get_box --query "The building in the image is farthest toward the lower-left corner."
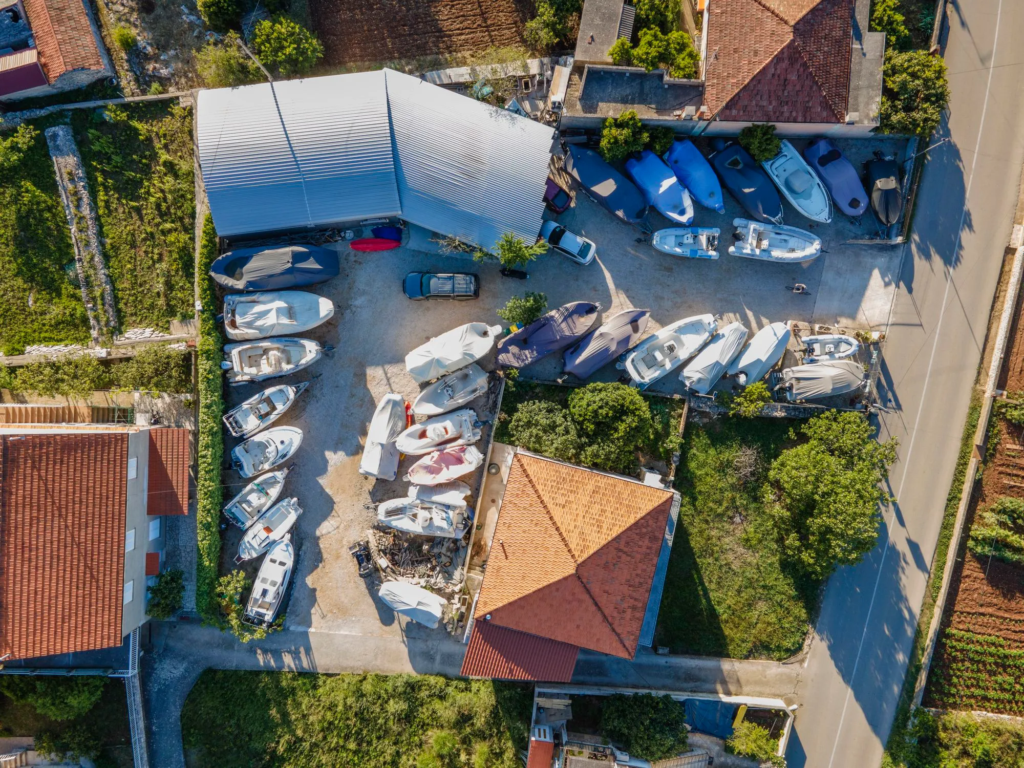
[0,424,200,680]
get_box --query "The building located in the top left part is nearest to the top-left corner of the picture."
[0,0,127,109]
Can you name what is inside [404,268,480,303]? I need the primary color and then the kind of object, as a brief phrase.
blue truck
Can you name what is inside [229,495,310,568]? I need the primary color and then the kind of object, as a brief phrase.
white boat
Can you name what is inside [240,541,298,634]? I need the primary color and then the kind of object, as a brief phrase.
white boat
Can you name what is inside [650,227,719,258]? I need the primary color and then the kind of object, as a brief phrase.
blue boat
